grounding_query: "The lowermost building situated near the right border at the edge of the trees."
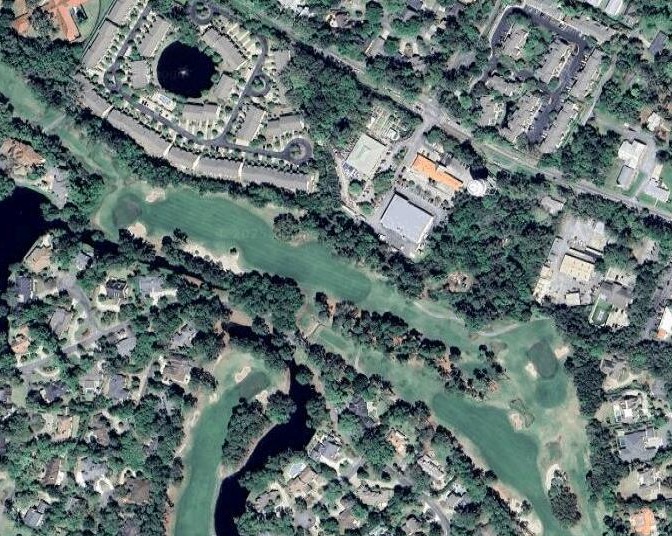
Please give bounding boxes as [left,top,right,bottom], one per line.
[629,508,659,534]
